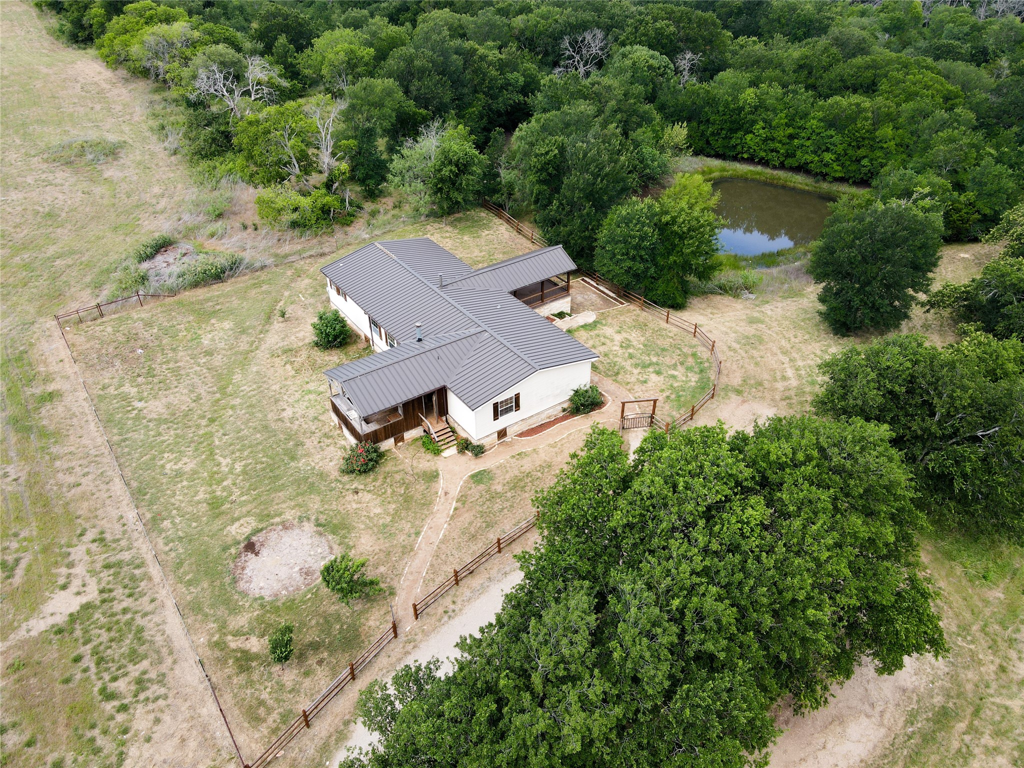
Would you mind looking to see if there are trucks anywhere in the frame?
No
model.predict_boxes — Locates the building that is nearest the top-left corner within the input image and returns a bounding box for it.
[319,238,601,454]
